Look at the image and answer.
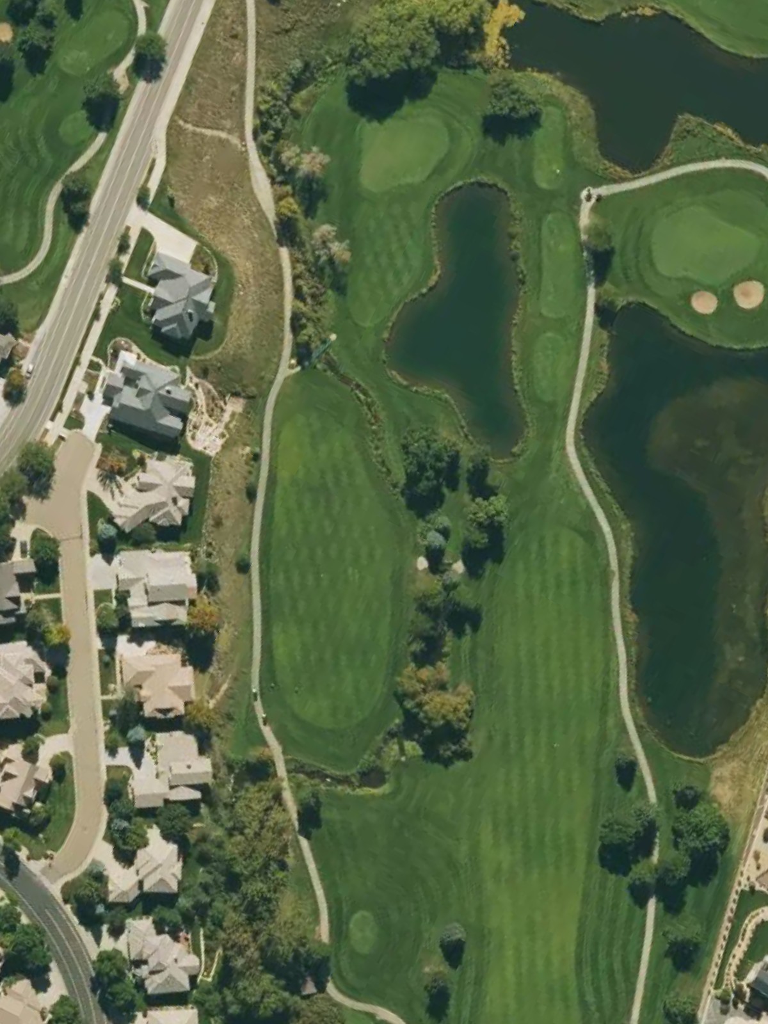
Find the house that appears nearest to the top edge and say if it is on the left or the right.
left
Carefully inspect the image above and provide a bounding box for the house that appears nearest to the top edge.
[148,250,215,341]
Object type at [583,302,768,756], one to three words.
pond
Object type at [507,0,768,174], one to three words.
pond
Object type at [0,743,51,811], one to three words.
house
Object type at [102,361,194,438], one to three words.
house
